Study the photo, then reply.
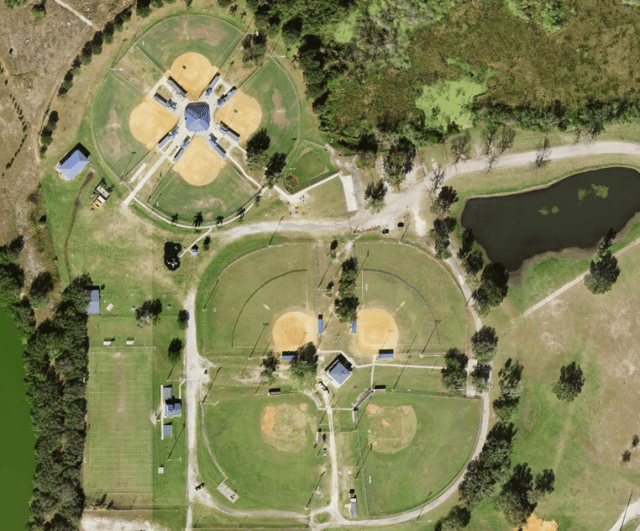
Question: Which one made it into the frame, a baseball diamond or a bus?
baseball diamond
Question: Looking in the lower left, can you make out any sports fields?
Yes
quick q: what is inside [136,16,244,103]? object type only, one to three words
baseball field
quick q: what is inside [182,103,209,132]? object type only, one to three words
building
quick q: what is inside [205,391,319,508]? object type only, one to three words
baseball field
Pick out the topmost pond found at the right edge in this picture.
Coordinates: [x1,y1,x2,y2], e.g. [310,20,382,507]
[460,167,640,270]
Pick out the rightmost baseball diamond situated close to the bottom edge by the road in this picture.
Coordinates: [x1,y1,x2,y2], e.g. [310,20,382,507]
[356,394,480,515]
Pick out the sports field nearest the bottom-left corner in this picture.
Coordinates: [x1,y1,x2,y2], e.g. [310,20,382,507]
[85,346,157,493]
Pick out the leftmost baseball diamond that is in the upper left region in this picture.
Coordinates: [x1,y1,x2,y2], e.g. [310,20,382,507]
[92,71,179,182]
